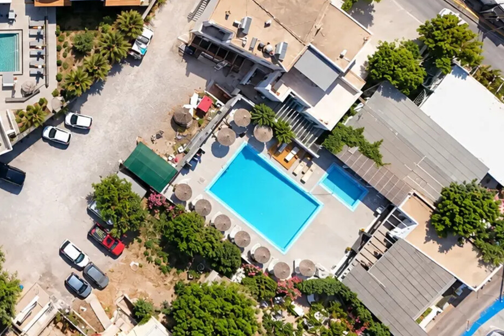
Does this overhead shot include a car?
Yes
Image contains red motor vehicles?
Yes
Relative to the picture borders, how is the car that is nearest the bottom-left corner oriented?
on a diagonal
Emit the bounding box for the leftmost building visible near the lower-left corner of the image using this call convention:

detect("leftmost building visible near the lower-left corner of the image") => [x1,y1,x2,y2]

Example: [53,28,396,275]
[13,276,58,336]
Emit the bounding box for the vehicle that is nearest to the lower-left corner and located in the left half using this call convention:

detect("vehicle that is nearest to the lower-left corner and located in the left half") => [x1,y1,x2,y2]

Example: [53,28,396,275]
[62,270,93,298]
